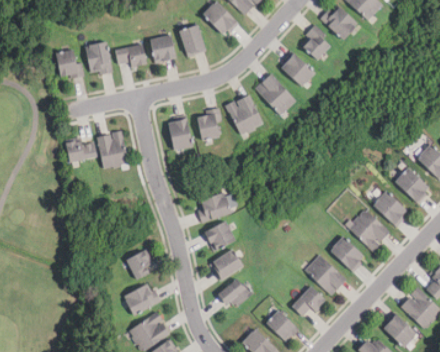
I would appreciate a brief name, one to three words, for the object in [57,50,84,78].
house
